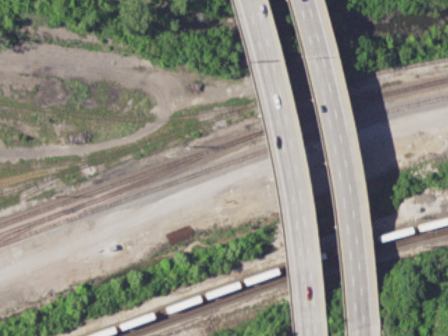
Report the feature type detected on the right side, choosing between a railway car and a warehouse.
railway car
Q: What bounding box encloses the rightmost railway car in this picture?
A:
[417,218,448,232]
